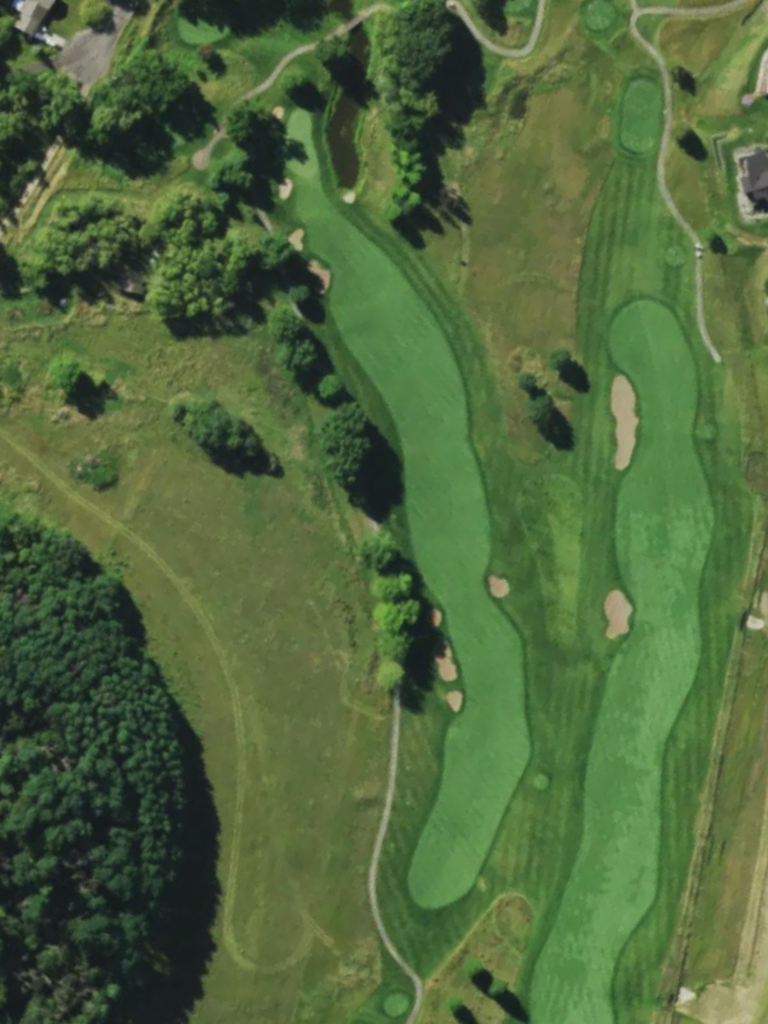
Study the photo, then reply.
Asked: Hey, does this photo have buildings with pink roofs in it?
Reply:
No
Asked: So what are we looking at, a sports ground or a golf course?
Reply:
golf course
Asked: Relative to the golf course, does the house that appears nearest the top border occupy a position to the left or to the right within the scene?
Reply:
left of it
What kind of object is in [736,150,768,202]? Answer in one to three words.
house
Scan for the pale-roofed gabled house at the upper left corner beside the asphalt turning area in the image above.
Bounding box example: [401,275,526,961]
[16,0,55,39]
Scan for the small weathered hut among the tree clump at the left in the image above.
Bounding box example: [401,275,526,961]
[123,272,145,292]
